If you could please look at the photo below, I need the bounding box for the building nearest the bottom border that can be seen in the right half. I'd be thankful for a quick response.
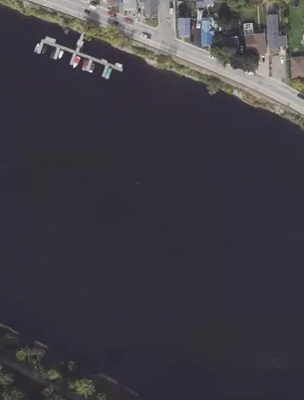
[290,55,304,79]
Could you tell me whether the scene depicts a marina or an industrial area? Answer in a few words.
marina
